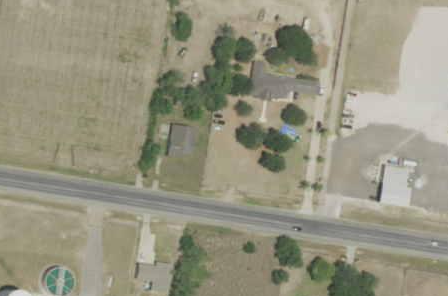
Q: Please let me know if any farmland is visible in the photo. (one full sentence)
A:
Yes, there is farmland in the image.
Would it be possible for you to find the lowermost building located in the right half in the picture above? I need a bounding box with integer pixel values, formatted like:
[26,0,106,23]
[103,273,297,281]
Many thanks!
[376,166,412,206]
